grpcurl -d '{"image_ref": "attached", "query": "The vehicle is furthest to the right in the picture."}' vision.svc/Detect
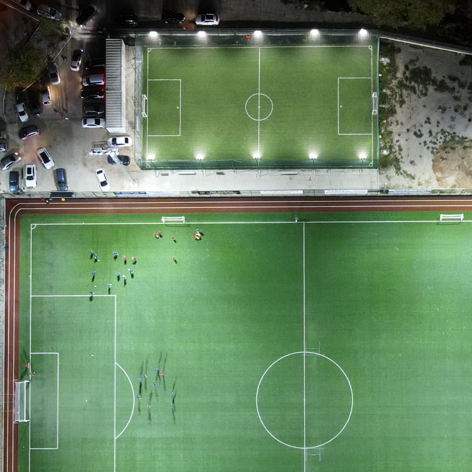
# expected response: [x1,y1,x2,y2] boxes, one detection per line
[195,12,219,26]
